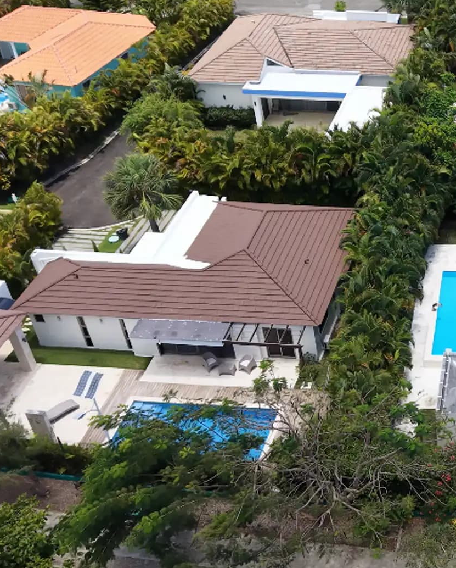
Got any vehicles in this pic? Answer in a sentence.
No, I find no vehicle anywhere in the image.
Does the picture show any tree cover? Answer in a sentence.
Yes, there is tree cover in the image.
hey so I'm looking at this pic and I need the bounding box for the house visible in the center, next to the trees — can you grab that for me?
[10,187,356,386]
